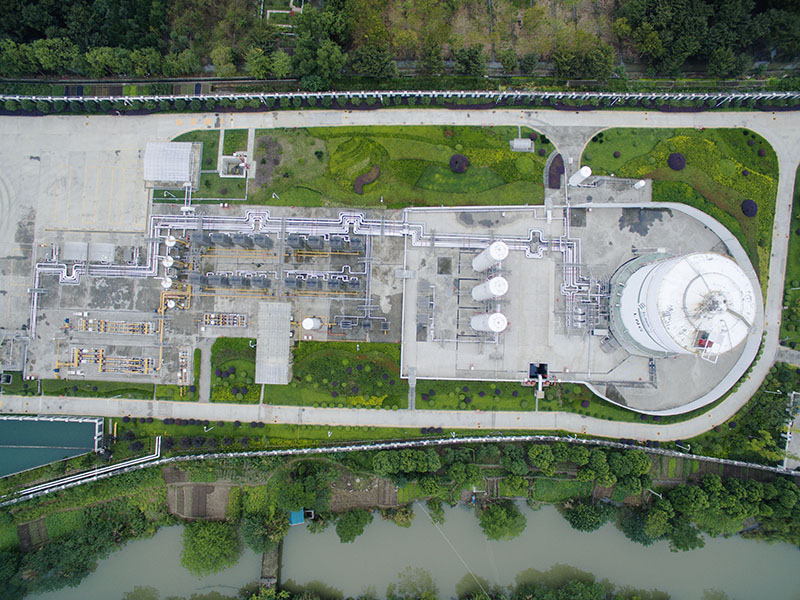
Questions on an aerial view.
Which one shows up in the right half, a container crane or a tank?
tank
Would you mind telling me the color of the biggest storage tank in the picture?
white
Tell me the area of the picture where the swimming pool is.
bottom left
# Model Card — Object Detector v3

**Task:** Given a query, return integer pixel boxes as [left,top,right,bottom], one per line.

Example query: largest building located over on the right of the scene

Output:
[510,138,534,153]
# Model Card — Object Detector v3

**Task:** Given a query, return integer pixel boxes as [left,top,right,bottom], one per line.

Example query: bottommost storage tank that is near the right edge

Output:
[608,252,760,363]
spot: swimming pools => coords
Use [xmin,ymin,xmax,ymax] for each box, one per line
[0,420,98,480]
